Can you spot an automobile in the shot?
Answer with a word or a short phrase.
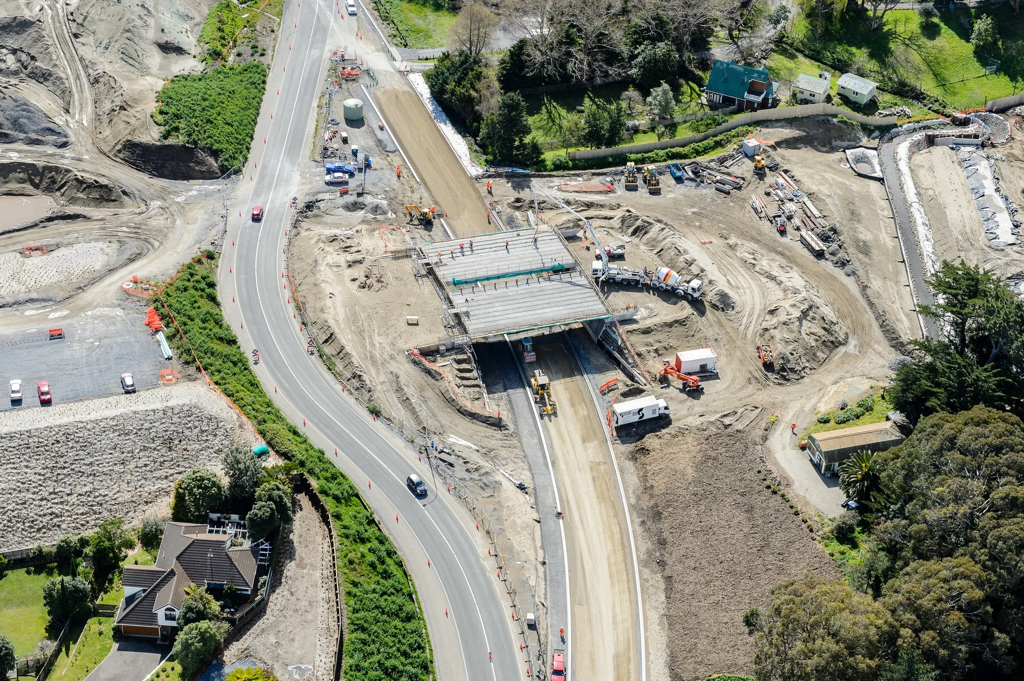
Yes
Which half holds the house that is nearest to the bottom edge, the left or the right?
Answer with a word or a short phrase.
left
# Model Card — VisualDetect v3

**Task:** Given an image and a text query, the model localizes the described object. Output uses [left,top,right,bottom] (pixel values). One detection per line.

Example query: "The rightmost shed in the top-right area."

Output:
[836,70,892,108]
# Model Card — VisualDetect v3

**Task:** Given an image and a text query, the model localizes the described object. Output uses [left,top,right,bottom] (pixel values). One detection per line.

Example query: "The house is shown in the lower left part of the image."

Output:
[115,522,261,640]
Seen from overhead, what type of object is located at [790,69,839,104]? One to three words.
shed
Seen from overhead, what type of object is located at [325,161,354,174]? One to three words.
vehicle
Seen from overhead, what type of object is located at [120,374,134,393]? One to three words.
car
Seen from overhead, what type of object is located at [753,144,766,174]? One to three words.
vehicle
